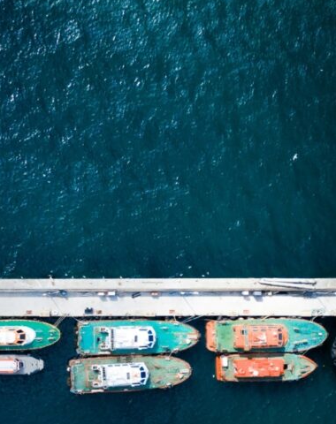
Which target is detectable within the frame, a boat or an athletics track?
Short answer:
boat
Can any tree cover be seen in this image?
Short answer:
No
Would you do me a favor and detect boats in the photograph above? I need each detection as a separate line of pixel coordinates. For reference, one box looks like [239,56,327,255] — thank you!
[205,317,328,352]
[214,352,318,382]
[75,318,201,355]
[66,354,193,394]
[0,352,44,378]
[0,318,61,352]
